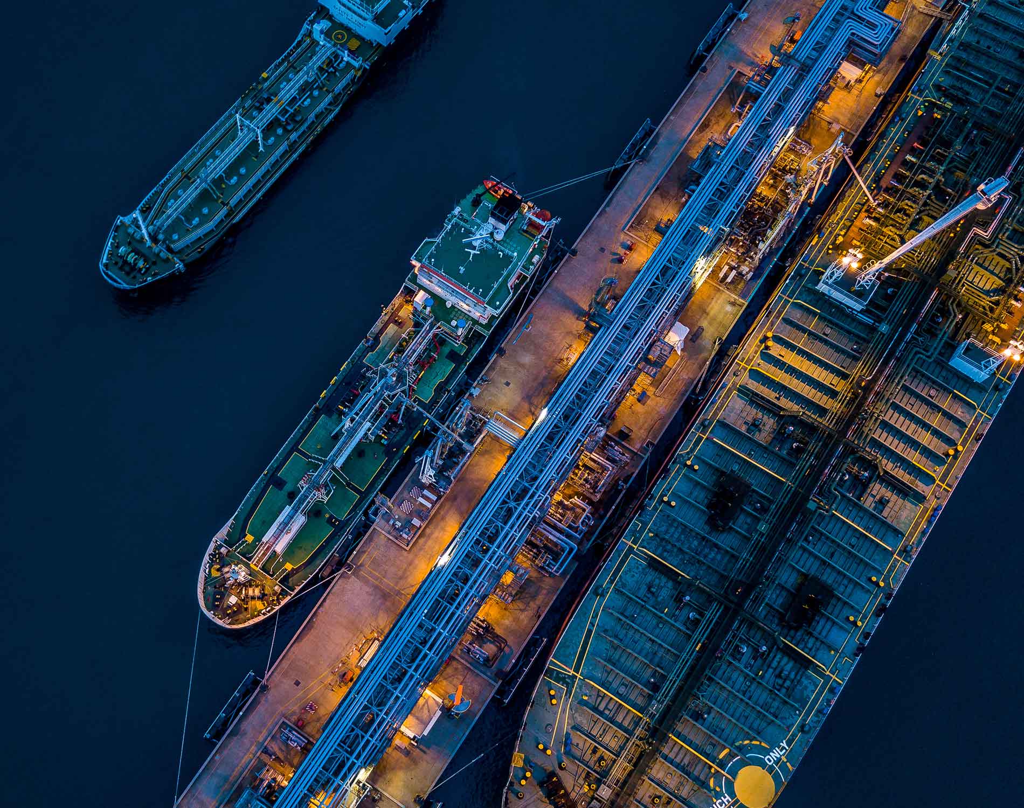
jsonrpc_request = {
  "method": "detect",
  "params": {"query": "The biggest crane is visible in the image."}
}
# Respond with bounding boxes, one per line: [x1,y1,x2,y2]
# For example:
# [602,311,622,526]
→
[854,167,1021,281]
